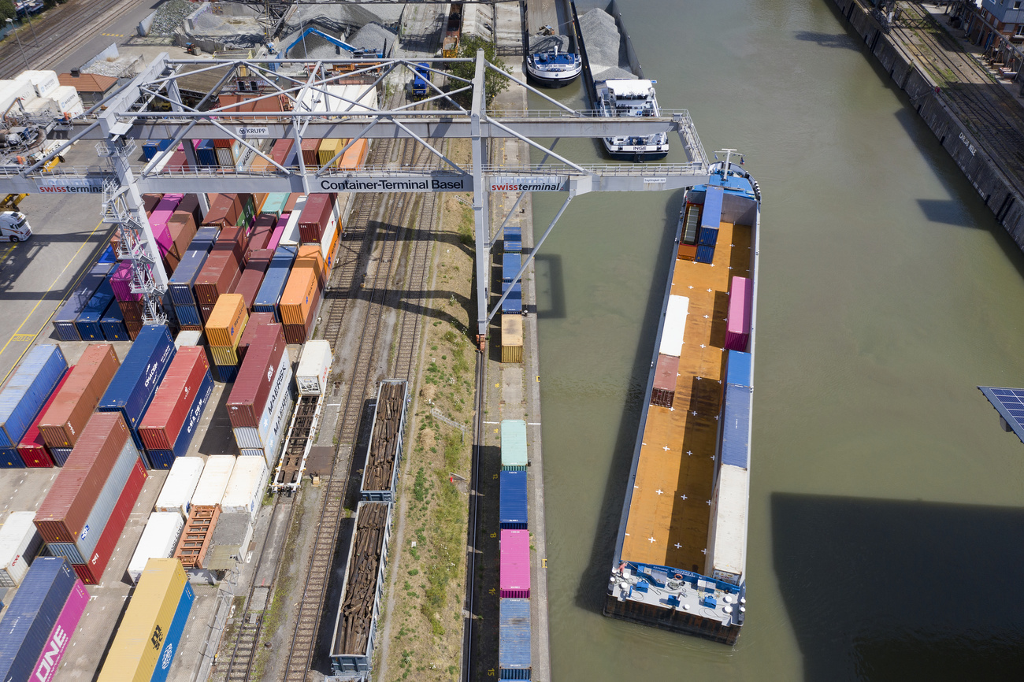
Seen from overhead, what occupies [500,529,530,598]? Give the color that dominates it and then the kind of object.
pink shipping container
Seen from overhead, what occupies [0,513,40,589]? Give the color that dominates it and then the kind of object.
white shipping container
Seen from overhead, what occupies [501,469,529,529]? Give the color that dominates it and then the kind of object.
blue shipping container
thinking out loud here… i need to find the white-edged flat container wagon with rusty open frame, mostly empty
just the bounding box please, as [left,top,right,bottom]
[271,356,334,499]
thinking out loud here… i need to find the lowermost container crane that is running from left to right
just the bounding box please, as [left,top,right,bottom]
[0,45,715,362]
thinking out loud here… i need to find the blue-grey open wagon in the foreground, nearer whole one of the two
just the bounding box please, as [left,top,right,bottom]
[329,501,394,675]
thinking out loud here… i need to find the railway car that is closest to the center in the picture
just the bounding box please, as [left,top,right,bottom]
[360,380,411,506]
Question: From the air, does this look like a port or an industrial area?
port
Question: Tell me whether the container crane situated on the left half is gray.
Yes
